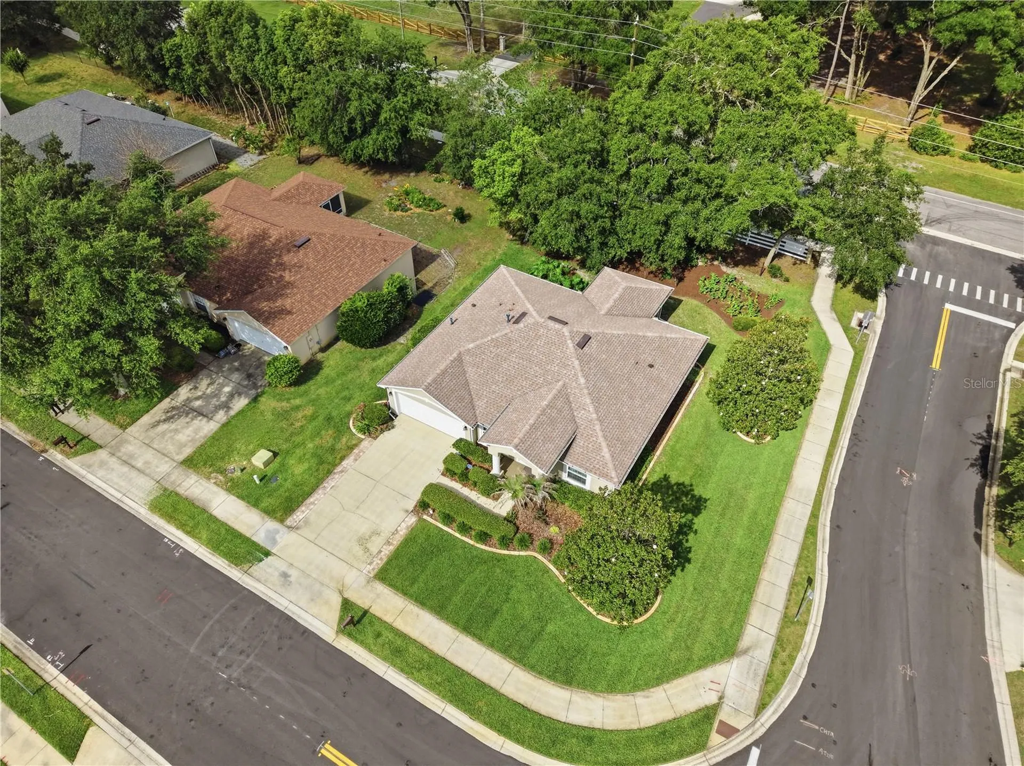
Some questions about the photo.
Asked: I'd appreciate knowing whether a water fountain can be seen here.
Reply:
No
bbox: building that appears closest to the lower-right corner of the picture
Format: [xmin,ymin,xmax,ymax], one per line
[376,265,710,503]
